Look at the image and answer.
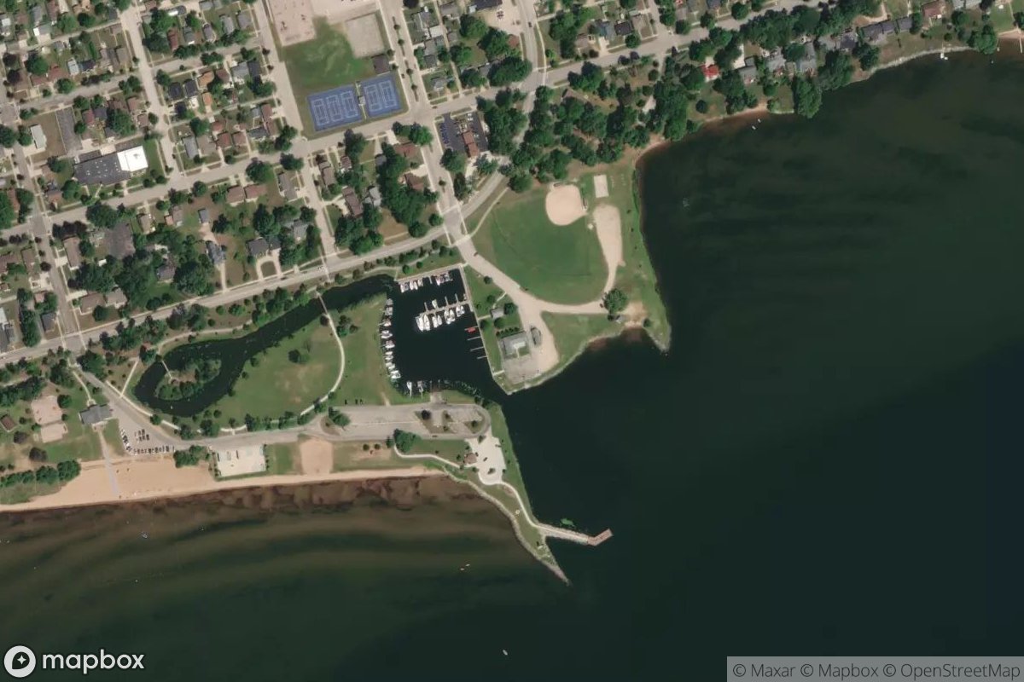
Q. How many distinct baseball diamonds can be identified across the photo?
one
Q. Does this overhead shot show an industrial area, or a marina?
marina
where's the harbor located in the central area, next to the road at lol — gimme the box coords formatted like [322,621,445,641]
[388,264,508,394]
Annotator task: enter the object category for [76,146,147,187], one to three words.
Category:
building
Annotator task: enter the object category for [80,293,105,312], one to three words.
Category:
house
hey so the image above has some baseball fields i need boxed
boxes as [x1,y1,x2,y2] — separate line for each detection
[483,181,607,303]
